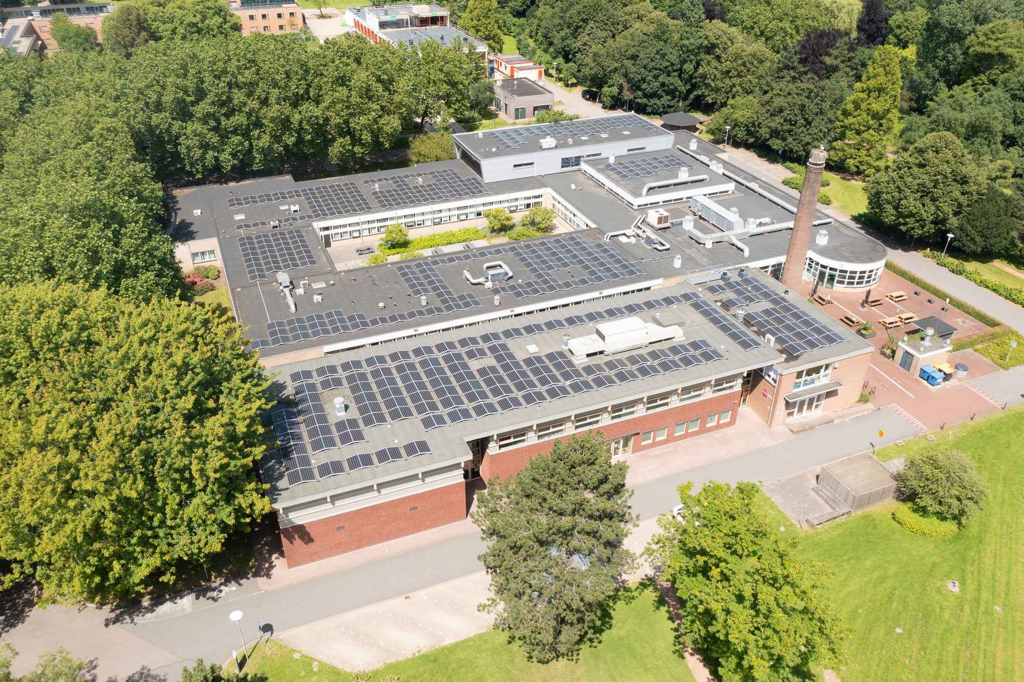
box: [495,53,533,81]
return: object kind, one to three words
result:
building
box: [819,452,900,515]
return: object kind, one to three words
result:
shed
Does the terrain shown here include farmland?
No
